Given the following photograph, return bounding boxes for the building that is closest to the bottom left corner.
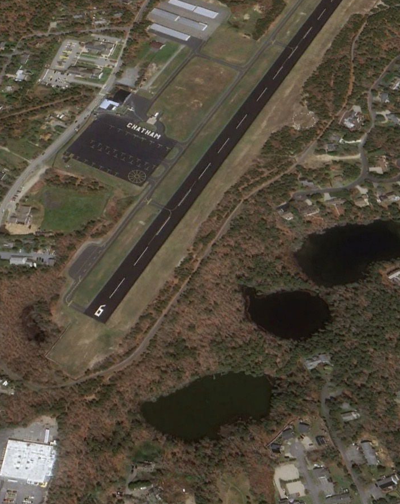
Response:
[0,439,56,485]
